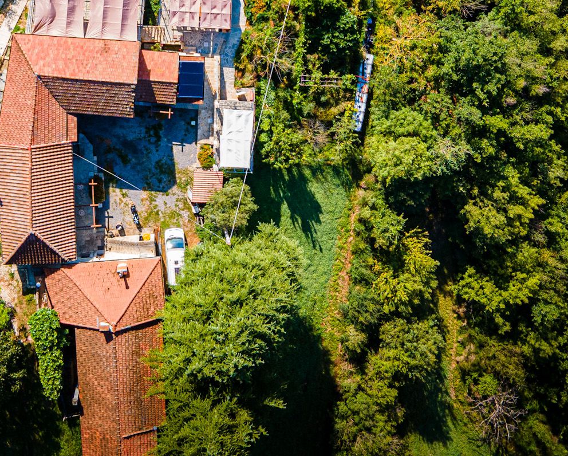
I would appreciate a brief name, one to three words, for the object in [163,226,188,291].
vehicle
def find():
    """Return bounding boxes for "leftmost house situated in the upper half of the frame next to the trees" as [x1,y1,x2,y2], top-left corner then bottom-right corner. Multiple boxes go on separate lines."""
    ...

[0,32,141,265]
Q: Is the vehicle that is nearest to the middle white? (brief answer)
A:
Yes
